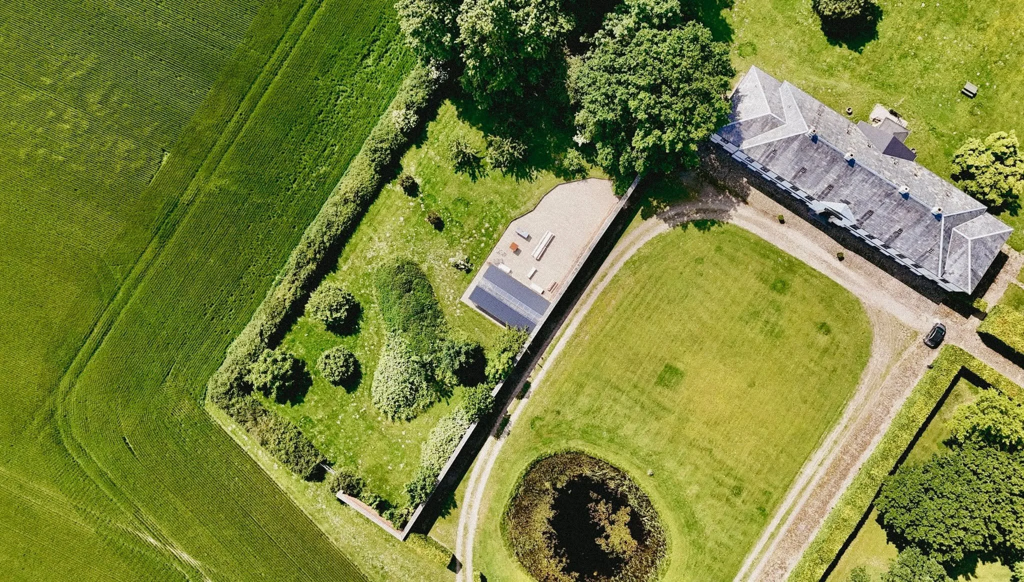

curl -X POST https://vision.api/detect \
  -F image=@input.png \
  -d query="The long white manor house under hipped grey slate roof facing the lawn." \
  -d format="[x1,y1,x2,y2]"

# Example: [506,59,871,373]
[702,65,1012,293]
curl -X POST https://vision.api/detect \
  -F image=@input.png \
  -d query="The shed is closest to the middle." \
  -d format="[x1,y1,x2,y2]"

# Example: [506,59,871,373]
[470,264,551,336]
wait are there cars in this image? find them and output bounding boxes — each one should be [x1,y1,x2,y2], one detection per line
[922,323,947,350]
